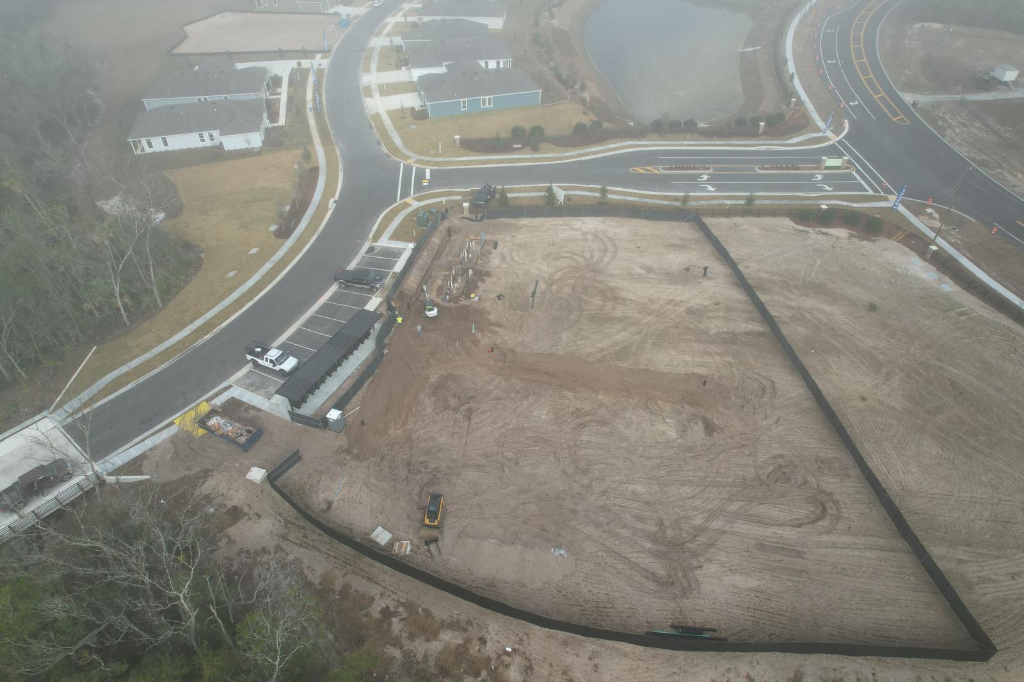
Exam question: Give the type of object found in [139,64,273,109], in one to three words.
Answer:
house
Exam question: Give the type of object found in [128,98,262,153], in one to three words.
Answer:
house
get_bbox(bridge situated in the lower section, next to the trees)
[0,349,151,536]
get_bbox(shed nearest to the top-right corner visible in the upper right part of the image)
[985,58,1021,86]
